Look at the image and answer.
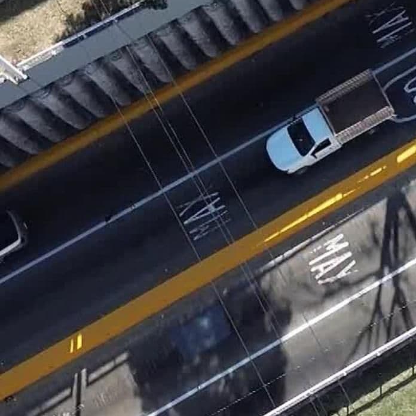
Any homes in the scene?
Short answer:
No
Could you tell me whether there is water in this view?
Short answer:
No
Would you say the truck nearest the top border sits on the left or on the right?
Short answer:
right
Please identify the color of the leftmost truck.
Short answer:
black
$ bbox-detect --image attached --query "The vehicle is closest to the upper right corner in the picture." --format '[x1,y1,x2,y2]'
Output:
[264,71,396,175]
